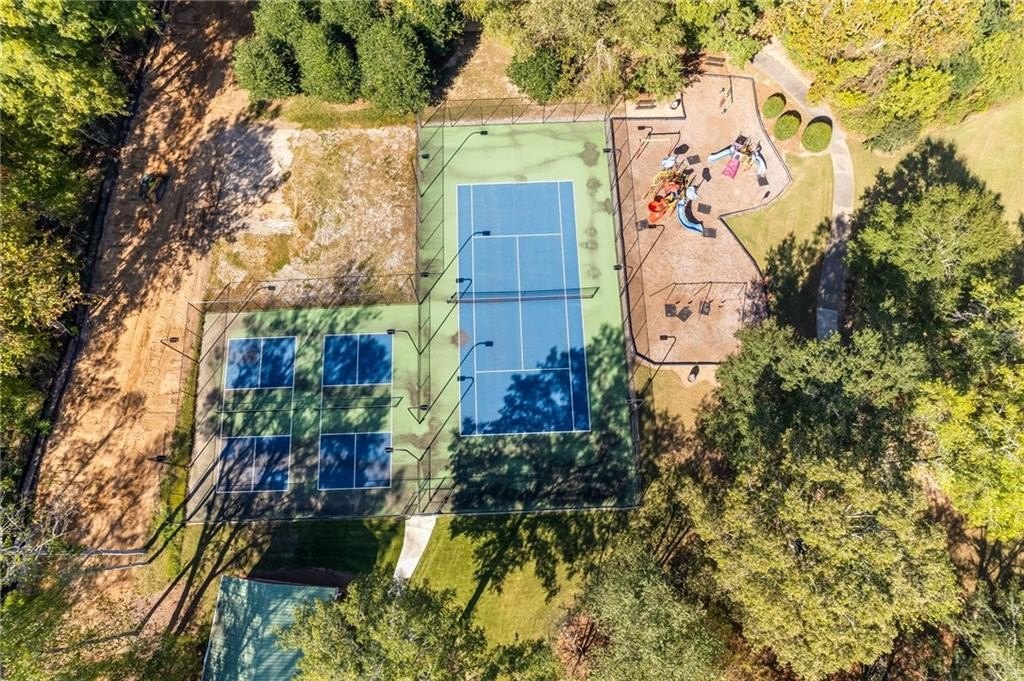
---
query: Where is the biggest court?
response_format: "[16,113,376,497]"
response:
[420,120,640,514]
